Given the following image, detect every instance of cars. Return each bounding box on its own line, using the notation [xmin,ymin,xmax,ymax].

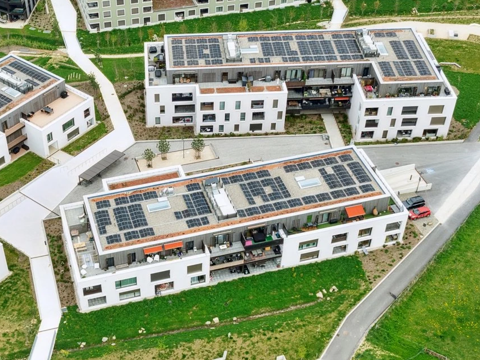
[401,193,428,211]
[408,204,433,220]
